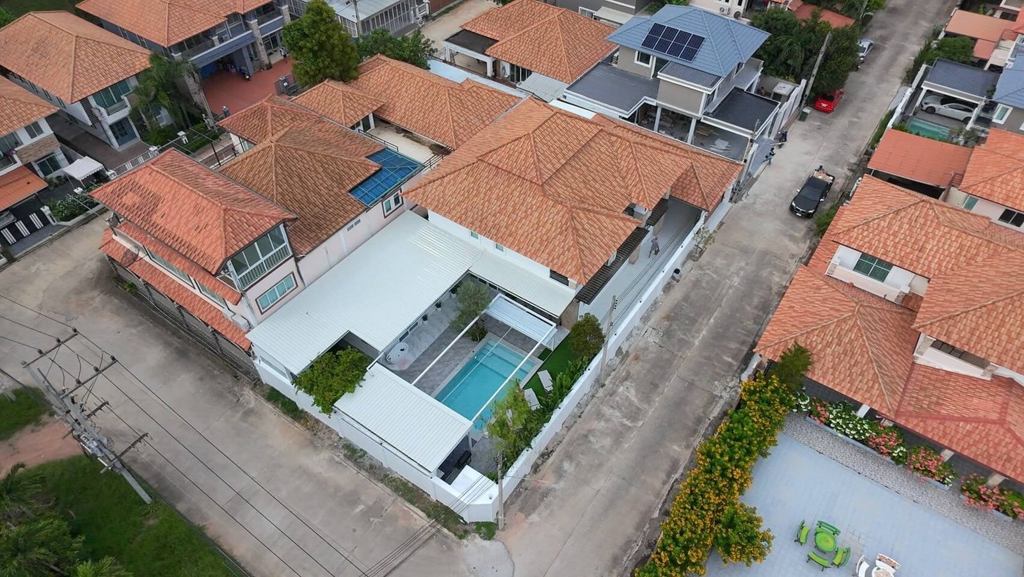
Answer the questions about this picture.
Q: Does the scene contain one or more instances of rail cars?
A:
No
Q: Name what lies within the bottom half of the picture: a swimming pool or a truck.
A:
swimming pool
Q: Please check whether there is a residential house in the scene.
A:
Yes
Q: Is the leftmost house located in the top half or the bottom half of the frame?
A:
top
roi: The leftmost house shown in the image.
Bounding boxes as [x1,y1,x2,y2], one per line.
[0,76,69,213]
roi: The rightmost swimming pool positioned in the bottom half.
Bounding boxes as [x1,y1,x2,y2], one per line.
[430,330,545,444]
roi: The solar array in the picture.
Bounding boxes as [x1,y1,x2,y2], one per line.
[639,14,704,57]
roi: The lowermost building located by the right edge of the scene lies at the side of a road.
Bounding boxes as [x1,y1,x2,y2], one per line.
[756,174,1024,489]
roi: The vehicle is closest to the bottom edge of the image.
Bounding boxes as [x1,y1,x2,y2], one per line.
[790,166,840,217]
